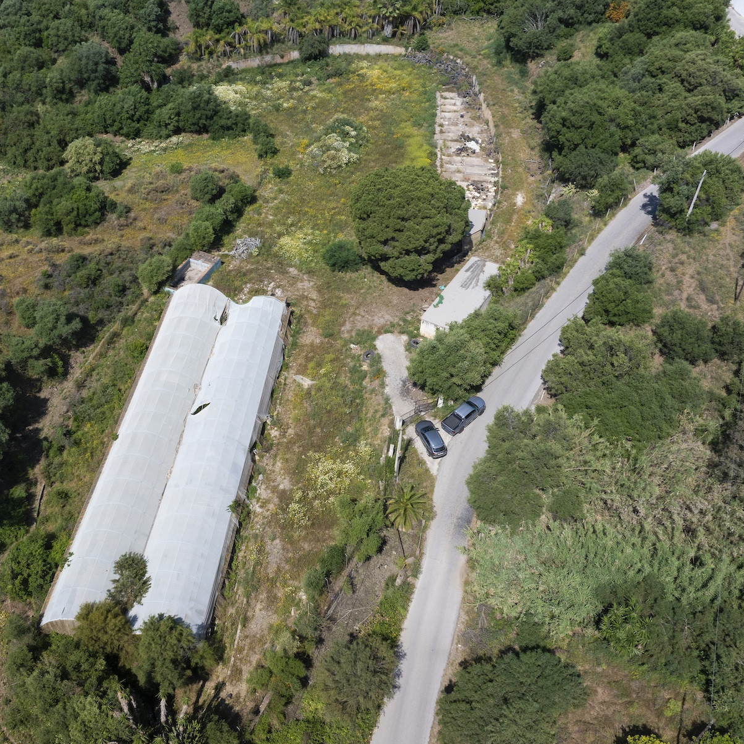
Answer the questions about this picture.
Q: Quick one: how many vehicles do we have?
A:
2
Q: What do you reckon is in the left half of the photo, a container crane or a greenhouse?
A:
greenhouse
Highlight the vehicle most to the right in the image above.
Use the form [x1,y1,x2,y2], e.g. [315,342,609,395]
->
[437,393,491,436]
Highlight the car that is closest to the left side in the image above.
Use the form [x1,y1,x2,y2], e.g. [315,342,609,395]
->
[414,416,450,458]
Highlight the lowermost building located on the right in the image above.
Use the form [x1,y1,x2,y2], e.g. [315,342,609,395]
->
[421,257,503,335]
